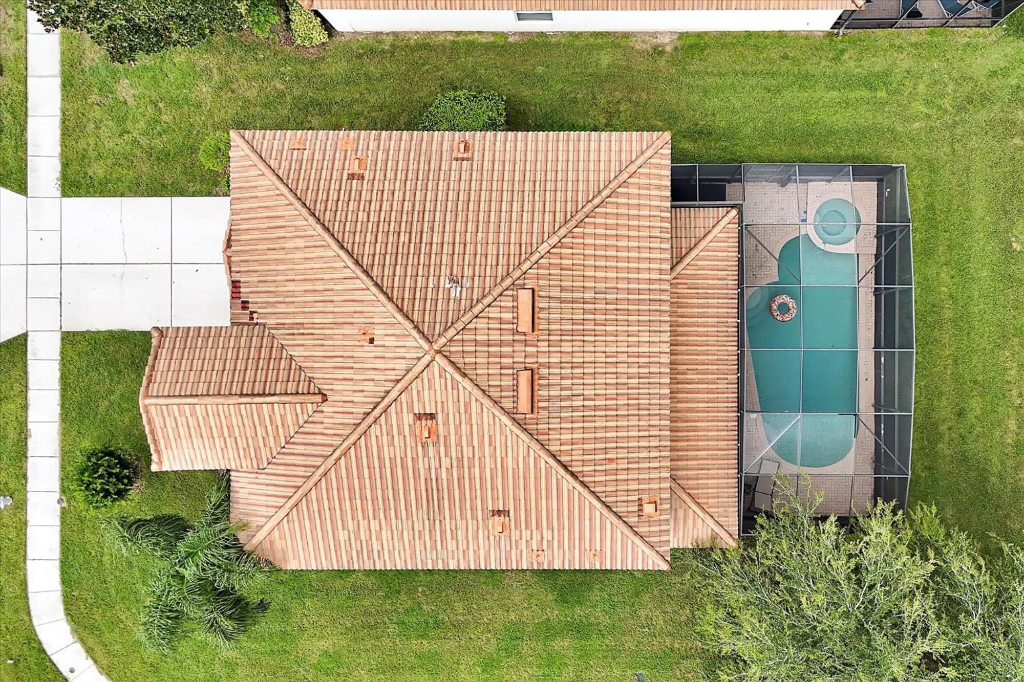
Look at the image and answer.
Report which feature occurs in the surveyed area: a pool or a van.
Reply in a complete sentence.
I can see a pool in this picture.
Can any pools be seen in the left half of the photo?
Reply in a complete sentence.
No, there's no pool to be seen in the left half of the photo.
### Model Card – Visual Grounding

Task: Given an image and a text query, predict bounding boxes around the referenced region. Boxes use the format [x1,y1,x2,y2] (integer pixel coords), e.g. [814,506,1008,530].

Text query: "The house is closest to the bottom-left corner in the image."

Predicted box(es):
[137,128,739,573]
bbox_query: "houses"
[292,0,871,38]
[137,128,739,573]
